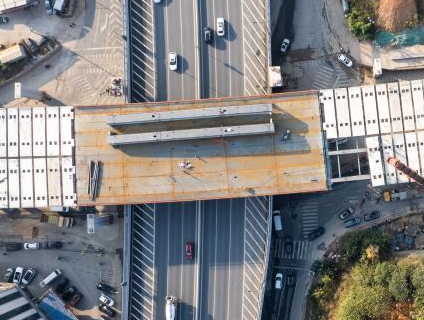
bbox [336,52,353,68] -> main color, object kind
white car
